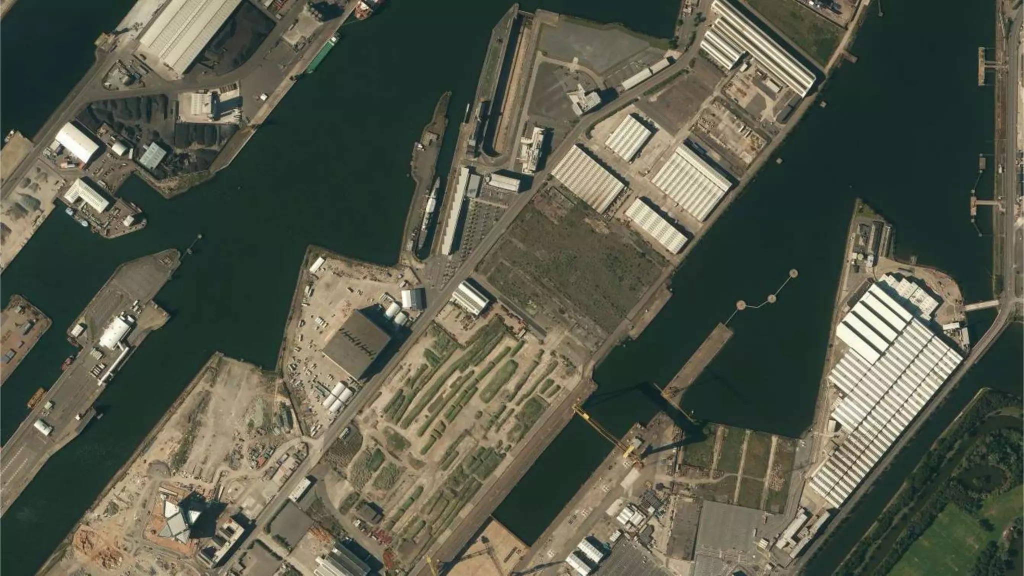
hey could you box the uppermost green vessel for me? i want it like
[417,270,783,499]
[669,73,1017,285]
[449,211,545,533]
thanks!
[306,33,339,74]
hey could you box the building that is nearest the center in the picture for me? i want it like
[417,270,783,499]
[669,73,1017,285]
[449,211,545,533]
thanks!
[453,280,489,316]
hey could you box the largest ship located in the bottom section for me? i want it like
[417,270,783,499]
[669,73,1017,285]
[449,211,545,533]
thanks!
[27,388,46,408]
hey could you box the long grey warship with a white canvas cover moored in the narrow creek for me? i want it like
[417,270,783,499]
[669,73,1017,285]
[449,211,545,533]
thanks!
[417,177,439,248]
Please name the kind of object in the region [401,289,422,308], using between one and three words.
building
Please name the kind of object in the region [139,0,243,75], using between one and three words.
shed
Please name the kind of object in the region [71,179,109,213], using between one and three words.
shed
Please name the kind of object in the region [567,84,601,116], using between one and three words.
building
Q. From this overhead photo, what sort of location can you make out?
port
